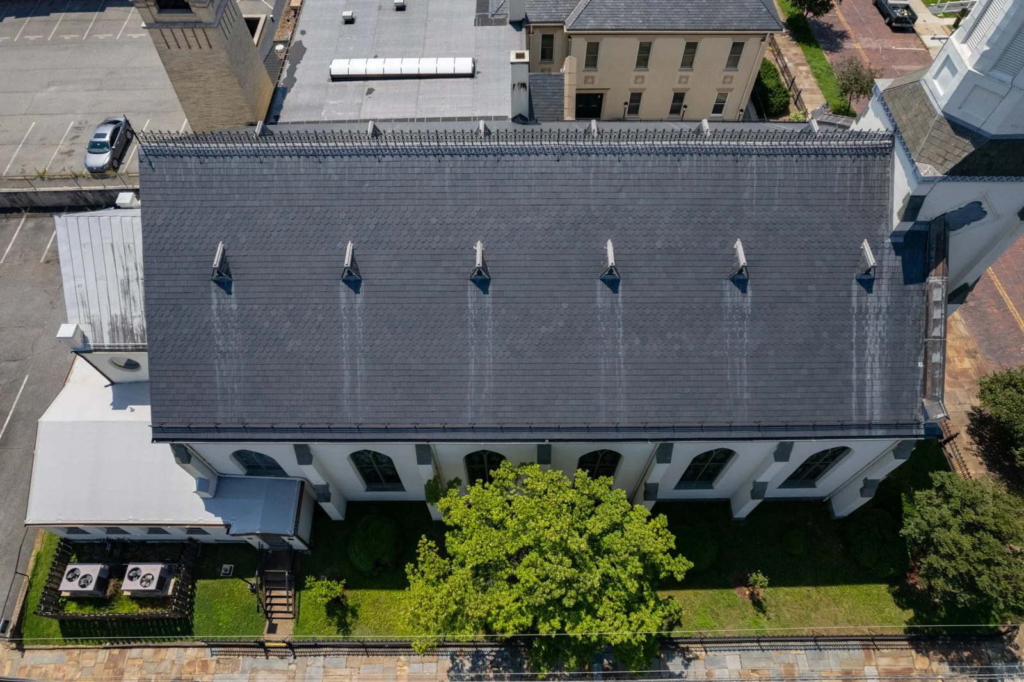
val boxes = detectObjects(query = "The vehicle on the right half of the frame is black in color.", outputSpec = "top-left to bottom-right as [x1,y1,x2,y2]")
[869,0,919,31]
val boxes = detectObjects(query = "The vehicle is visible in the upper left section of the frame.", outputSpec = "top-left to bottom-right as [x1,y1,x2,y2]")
[81,115,129,171]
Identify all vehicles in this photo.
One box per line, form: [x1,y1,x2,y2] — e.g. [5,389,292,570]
[869,0,919,31]
[81,115,129,171]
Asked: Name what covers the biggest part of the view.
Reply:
buildings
